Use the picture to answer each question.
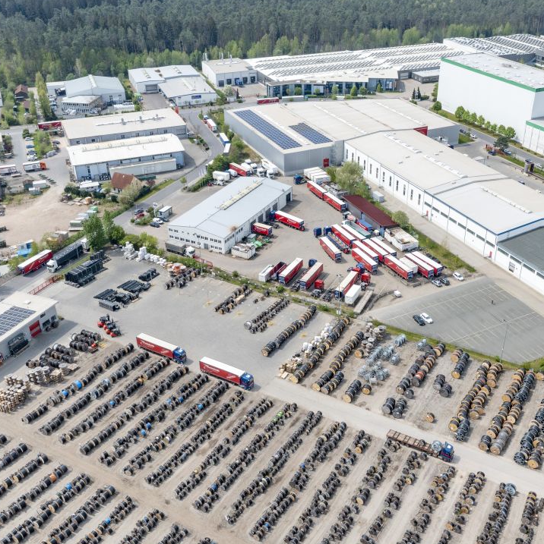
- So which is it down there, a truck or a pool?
truck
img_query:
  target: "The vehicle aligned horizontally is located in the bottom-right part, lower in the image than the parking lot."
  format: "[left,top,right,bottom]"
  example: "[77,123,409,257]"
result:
[381,426,448,455]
